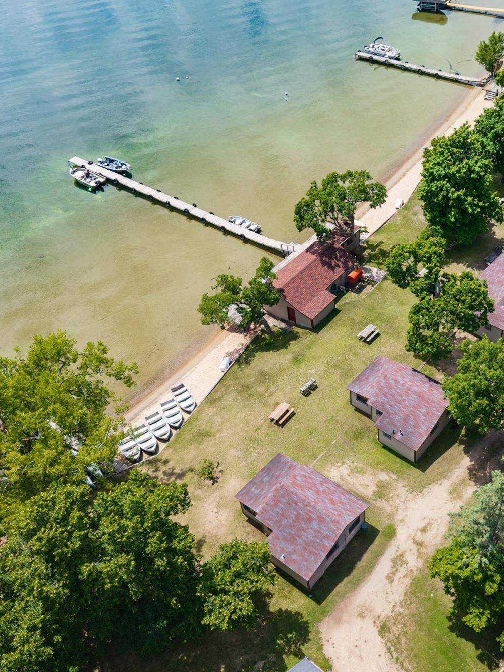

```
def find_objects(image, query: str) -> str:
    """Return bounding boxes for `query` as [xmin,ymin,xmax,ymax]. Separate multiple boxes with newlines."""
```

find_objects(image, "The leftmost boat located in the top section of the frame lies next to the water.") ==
[69,169,107,190]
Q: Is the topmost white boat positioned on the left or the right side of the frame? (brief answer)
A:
right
